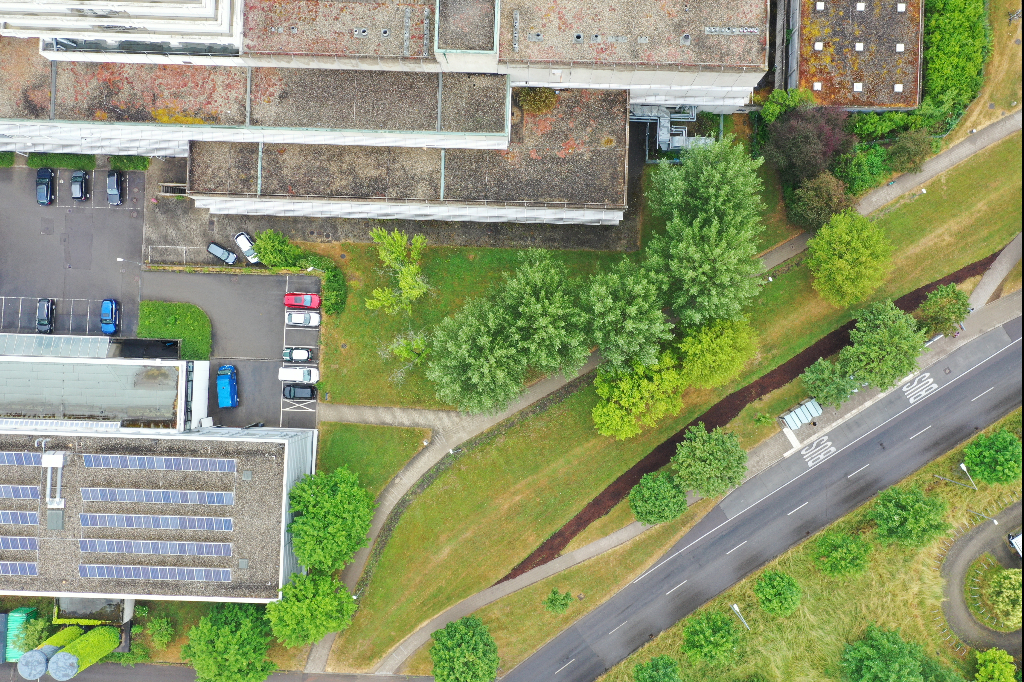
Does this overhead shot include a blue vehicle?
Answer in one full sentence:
Yes, looking at the shot, I can spot a blue vehicle.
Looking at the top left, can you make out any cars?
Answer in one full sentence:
Yes, looking at the top left, one can make out a car.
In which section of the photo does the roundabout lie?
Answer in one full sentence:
Look in the bottom right portion of the view to spot the roundabout.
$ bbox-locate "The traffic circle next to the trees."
[940,500,1024,659]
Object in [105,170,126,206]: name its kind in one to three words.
car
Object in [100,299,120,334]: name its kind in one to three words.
car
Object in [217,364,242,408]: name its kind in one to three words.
vehicle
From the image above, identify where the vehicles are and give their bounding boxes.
[100,299,120,334]
[286,311,321,328]
[35,299,56,333]
[105,170,126,206]
[35,169,56,205]
[282,346,312,363]
[285,384,318,401]
[277,366,320,384]
[207,241,239,265]
[217,364,242,408]
[70,171,90,201]
[284,291,321,309]
[232,231,262,266]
